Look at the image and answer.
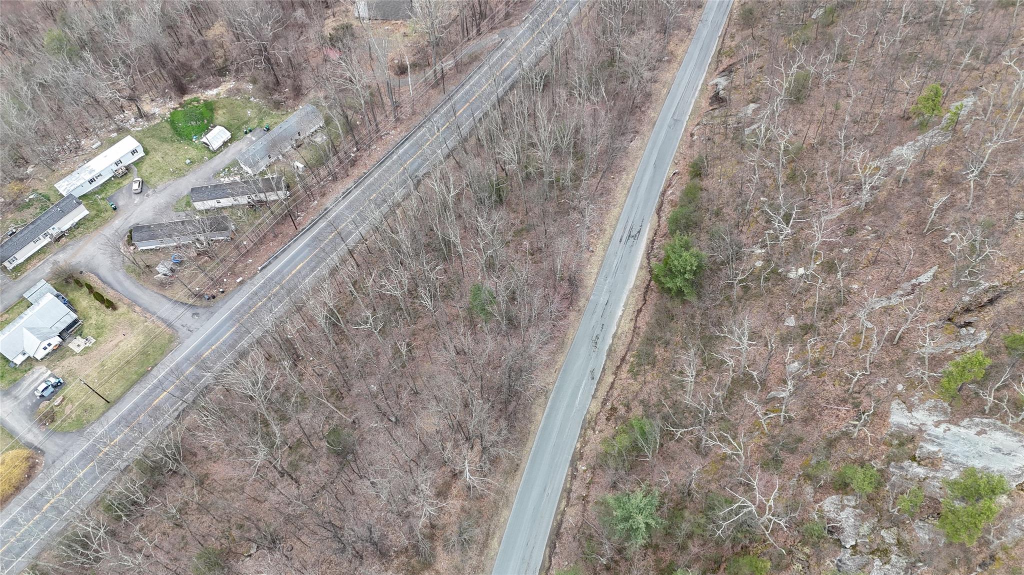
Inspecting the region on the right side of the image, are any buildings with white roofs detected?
No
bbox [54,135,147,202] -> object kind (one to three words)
house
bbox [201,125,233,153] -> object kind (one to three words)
shed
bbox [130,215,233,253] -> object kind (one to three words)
house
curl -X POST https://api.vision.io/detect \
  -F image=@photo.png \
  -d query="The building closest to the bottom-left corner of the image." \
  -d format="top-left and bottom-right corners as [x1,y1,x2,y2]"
[0,279,85,366]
